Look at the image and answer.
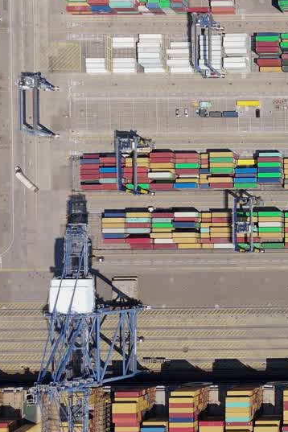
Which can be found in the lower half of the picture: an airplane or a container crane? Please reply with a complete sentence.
It is a container crane that can be seen in the lower half of the picture.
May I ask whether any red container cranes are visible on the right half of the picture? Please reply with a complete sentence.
No, no red container crane can be made out on the right half of the picture.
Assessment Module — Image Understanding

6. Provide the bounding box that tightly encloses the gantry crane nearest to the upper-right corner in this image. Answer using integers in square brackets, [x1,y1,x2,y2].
[191,13,227,82]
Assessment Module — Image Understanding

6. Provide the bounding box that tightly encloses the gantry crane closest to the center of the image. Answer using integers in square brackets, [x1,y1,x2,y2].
[115,135,158,195]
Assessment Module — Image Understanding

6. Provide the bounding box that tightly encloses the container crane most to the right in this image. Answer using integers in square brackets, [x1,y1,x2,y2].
[232,194,268,252]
